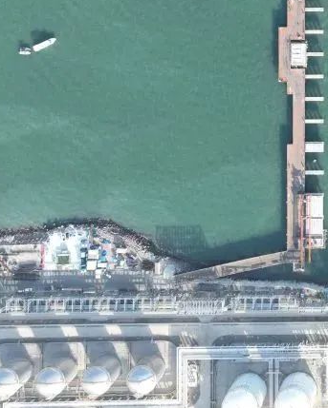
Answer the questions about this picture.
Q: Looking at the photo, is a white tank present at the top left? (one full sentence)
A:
No, there is no white tank at the top left.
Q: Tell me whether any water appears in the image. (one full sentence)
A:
Yes, there is water in the image.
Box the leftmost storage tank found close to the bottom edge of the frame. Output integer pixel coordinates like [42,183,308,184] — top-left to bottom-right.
[0,354,34,401]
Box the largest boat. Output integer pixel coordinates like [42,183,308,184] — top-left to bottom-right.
[32,37,57,51]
